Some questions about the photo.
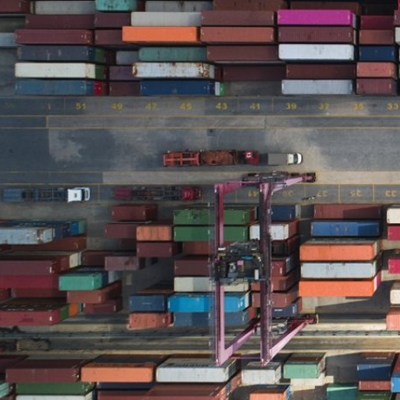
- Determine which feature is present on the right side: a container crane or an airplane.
container crane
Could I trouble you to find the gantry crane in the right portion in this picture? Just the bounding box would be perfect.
[210,166,314,366]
